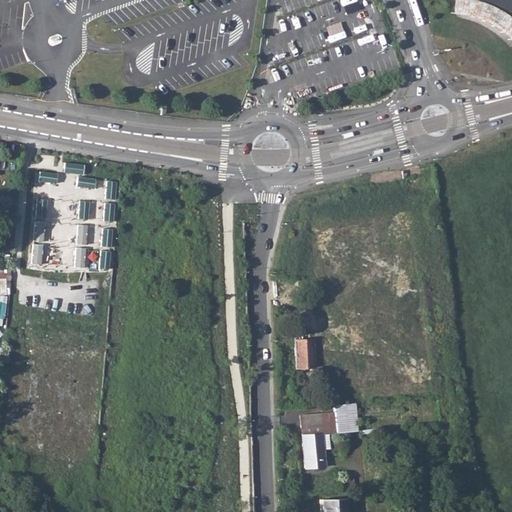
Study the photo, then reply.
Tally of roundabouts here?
2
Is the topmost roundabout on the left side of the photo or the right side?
right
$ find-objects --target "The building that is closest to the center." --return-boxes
[296,339,317,370]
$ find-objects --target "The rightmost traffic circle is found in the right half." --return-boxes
[404,90,466,152]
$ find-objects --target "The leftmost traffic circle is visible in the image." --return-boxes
[236,117,306,188]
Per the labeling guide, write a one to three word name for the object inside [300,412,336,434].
barn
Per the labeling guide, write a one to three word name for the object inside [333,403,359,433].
shed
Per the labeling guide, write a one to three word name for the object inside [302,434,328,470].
house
